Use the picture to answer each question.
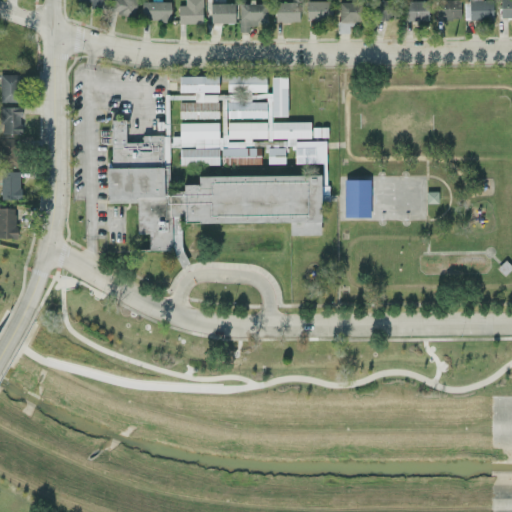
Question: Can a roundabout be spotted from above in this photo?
No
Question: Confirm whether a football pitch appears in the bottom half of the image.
No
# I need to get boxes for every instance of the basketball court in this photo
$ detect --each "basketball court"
[374,176,398,220]
[398,176,422,220]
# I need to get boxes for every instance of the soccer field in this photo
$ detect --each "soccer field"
[362,99,432,145]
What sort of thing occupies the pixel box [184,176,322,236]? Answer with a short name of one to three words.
building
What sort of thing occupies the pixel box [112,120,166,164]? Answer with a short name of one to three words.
building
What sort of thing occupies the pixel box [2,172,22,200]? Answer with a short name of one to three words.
house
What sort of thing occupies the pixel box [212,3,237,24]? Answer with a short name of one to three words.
house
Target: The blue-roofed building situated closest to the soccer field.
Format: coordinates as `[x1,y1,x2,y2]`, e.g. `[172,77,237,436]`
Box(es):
[346,180,372,218]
